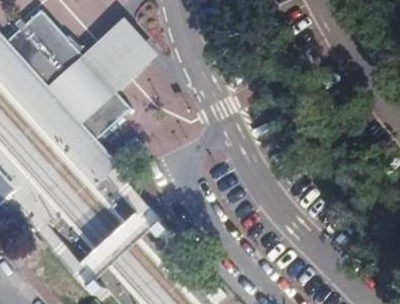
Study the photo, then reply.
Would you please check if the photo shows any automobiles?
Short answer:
Yes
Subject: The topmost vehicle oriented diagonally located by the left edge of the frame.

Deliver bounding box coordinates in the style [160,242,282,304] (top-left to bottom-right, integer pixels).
[0,256,14,276]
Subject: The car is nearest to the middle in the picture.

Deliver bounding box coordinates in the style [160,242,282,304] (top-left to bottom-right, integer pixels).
[210,162,229,178]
